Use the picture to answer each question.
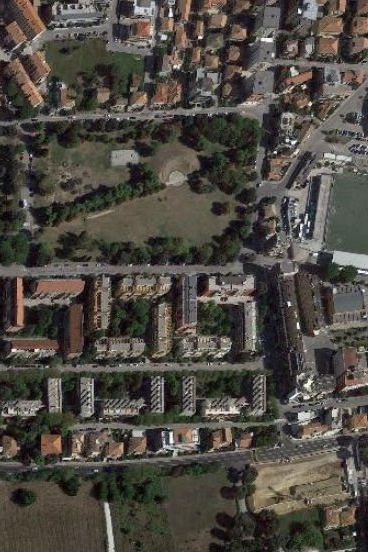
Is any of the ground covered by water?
No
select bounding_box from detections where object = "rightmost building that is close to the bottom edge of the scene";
[340,504,355,529]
